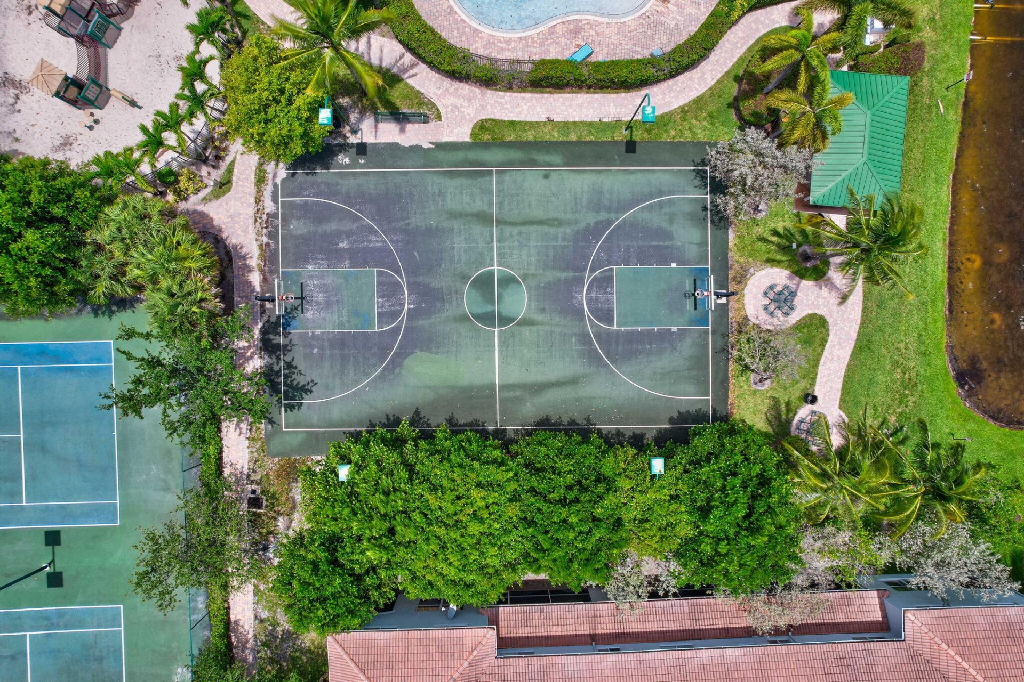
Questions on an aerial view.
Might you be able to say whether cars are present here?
No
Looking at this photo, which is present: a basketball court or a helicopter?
basketball court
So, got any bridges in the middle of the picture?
No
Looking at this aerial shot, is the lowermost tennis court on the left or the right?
left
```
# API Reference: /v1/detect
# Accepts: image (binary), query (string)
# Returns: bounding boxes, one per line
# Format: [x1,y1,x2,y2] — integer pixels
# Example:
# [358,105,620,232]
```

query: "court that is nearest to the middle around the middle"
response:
[262,141,729,457]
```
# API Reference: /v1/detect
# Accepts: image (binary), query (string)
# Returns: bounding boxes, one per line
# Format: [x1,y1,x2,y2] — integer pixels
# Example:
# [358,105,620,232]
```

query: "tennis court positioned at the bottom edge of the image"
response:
[0,605,125,682]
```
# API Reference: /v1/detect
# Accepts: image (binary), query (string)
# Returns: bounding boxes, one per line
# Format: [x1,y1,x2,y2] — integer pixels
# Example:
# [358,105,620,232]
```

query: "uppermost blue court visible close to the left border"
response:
[0,341,118,530]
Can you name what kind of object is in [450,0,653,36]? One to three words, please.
swimming pool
